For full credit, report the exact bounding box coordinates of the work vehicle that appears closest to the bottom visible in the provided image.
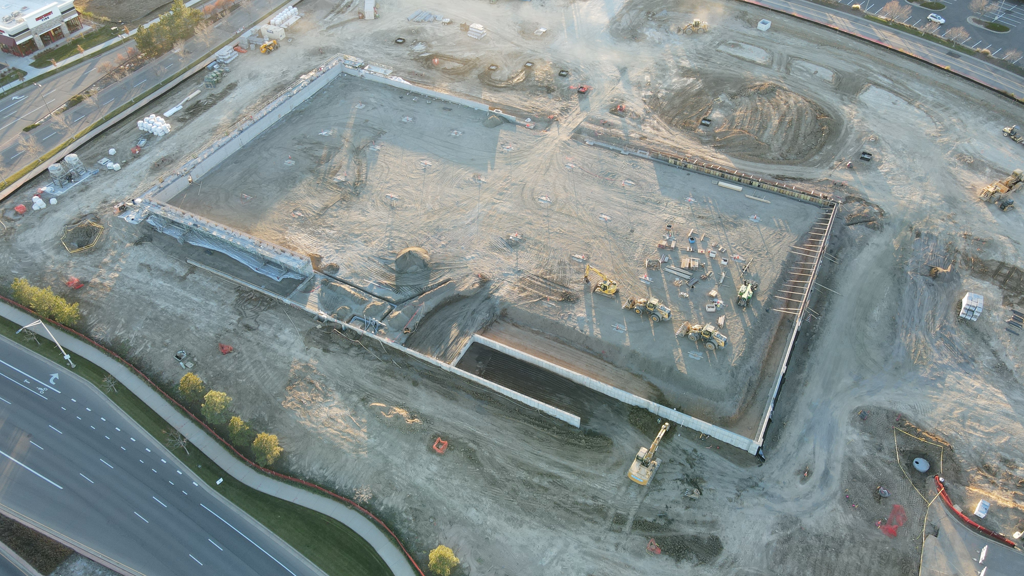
[629,408,675,485]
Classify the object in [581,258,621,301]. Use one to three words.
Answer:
work vehicle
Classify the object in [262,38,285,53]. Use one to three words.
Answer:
work vehicle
